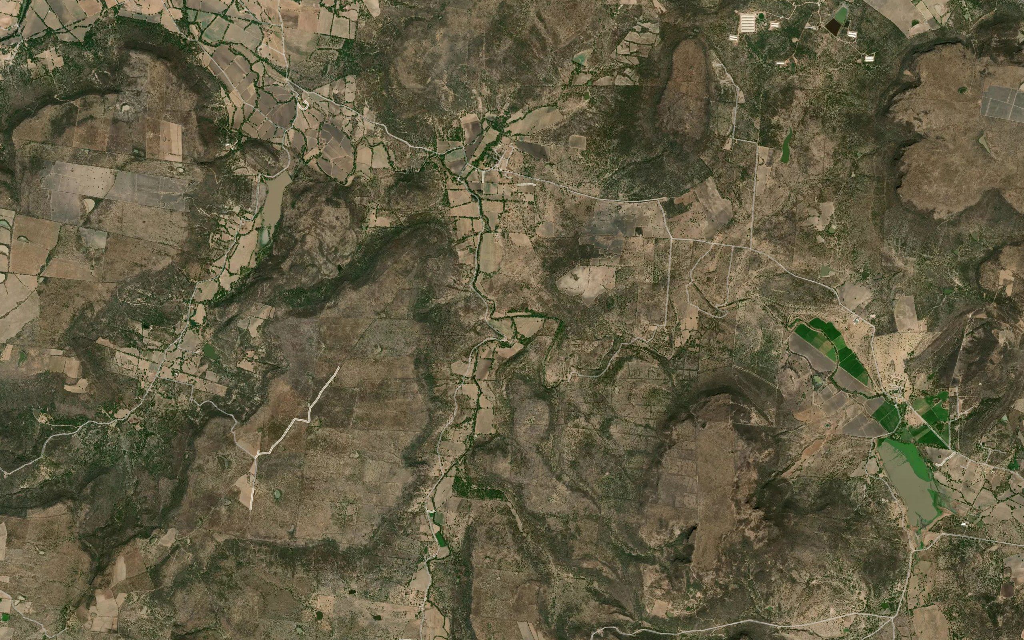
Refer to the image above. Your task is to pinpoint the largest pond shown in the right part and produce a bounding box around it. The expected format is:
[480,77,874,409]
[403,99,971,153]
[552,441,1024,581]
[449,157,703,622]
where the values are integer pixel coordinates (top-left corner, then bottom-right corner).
[877,441,936,528]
